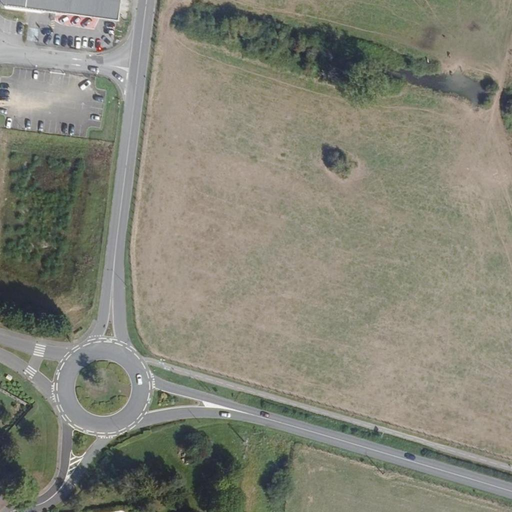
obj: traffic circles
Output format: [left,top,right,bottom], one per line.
[52,336,154,438]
